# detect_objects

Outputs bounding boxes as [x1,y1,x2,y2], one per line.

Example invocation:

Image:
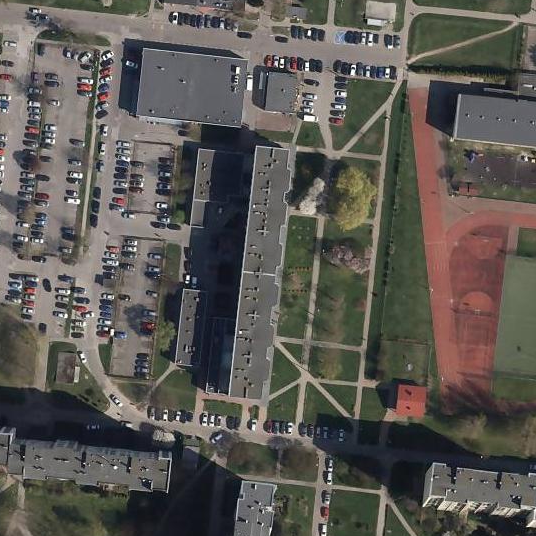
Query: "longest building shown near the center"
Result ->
[231,146,293,403]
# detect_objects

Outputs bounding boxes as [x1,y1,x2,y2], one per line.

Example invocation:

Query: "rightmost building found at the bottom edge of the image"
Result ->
[429,462,536,521]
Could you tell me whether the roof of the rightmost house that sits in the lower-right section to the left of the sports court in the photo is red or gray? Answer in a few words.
red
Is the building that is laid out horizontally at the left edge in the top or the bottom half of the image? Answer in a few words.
bottom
